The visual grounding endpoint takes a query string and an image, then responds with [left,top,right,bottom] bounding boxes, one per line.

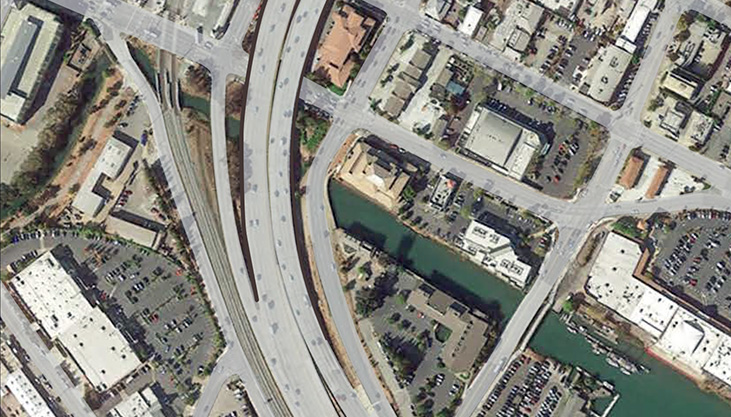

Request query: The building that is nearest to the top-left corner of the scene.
[0,1,63,127]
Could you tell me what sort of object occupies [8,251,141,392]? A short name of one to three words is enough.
building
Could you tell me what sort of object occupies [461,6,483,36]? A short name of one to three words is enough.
building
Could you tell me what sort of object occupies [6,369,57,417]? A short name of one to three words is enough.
shed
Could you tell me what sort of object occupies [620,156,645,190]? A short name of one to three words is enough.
house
